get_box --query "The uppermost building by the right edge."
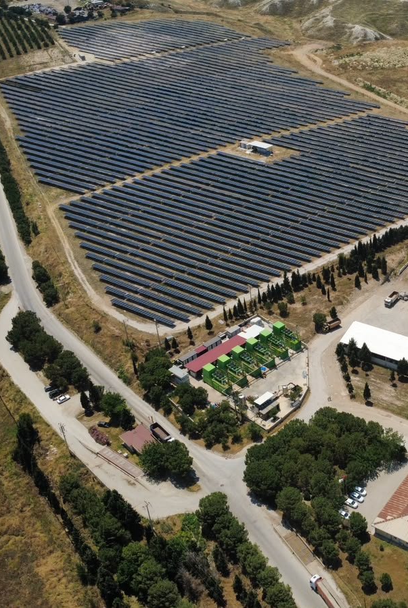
[338,320,408,379]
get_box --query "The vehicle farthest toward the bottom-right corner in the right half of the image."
[309,568,348,608]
